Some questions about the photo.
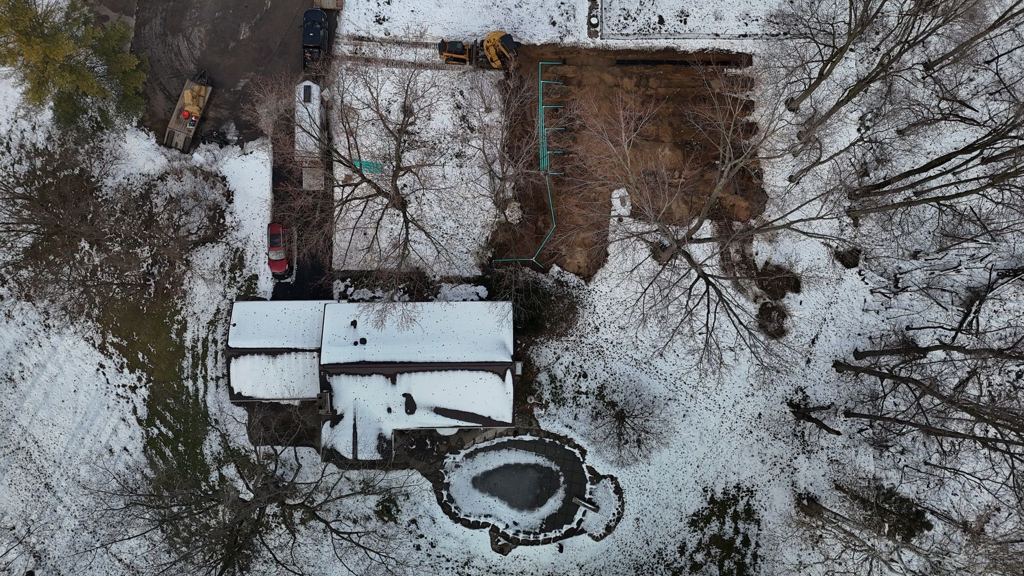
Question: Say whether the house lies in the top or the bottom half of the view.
bottom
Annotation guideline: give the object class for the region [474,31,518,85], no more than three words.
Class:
work vehicle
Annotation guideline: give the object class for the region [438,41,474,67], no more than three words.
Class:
work vehicle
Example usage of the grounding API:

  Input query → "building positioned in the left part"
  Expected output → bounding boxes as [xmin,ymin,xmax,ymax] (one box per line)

[225,299,513,461]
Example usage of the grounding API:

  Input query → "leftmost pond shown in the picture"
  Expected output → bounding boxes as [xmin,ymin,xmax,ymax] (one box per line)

[442,435,590,538]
